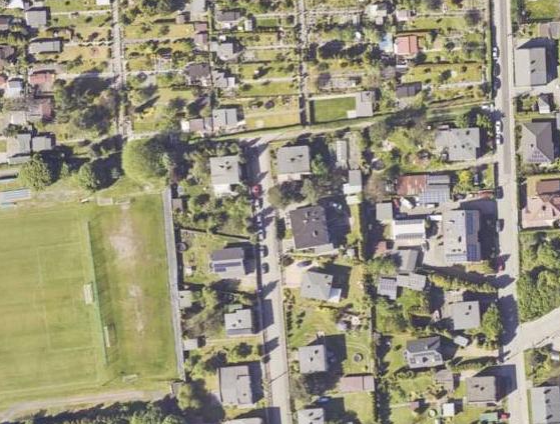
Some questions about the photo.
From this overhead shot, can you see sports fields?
Yes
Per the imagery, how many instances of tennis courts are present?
none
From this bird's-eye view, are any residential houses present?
Yes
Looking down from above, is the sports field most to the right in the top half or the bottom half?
bottom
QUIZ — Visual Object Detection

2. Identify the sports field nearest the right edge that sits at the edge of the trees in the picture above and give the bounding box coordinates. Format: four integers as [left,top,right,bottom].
[86,193,178,384]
